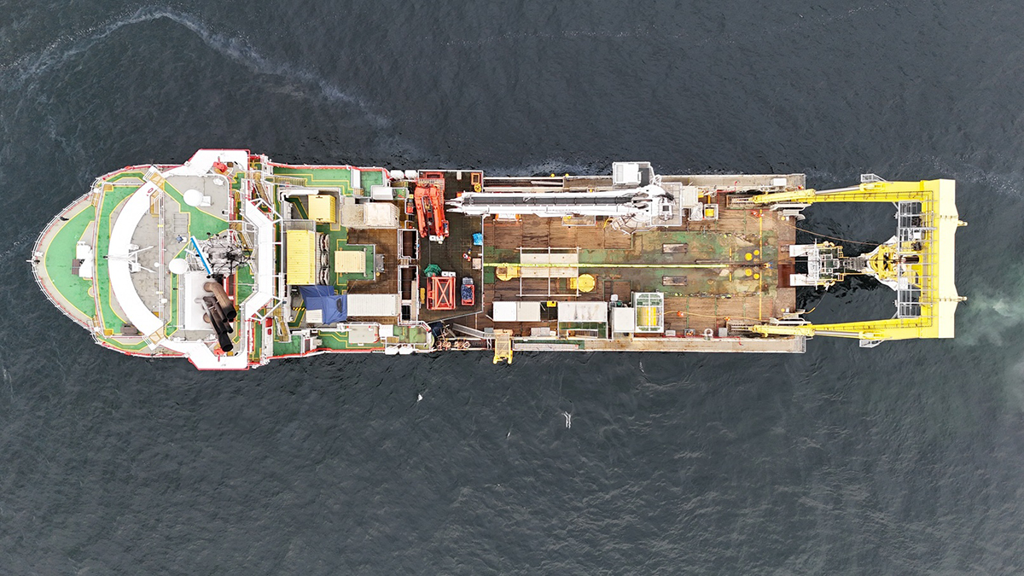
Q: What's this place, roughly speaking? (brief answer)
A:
port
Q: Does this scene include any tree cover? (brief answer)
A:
No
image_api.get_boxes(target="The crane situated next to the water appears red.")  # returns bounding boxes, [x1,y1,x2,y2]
[415,172,449,279]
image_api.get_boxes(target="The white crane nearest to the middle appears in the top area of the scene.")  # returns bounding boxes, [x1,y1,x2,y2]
[446,182,683,238]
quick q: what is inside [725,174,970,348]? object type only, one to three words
container crane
